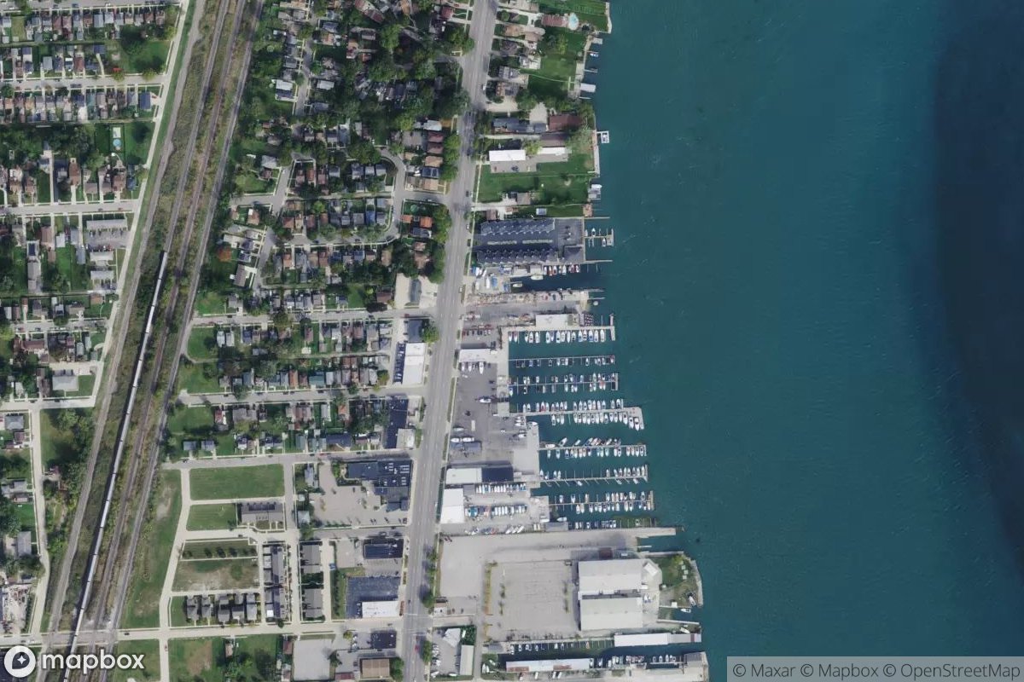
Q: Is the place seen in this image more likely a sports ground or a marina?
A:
marina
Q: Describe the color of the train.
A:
white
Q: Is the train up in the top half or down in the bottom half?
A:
bottom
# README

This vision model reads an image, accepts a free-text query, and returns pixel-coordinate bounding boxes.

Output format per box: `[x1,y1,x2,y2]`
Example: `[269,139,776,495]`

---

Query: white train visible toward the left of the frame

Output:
[64,253,167,682]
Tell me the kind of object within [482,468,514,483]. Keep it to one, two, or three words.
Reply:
building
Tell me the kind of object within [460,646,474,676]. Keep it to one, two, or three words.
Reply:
shed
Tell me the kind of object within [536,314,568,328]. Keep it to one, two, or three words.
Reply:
building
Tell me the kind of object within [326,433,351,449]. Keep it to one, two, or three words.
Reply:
house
